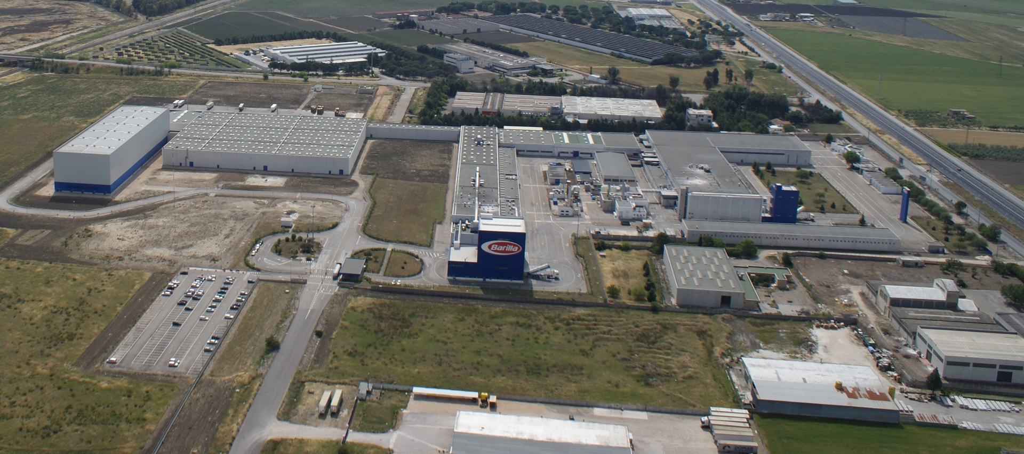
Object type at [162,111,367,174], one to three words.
building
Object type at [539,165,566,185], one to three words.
shed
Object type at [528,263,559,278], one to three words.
vehicle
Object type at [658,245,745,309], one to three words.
building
